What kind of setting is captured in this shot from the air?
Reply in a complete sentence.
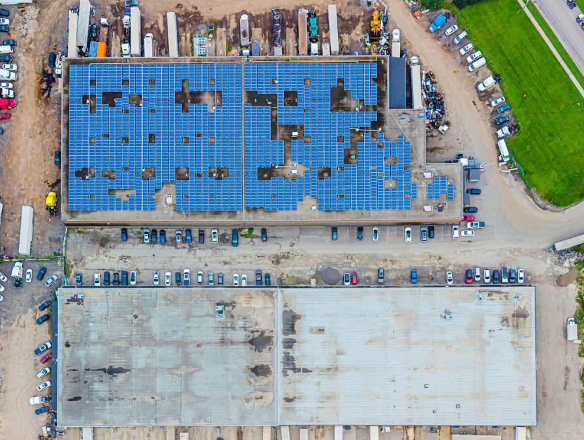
This looks like an industrial area.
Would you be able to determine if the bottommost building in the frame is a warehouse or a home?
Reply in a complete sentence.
Looking closely, the bottommost building is a warehouse.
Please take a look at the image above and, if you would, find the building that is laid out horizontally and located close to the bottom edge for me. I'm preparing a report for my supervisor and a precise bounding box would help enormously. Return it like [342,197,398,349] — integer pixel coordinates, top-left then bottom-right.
[52,283,537,428]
